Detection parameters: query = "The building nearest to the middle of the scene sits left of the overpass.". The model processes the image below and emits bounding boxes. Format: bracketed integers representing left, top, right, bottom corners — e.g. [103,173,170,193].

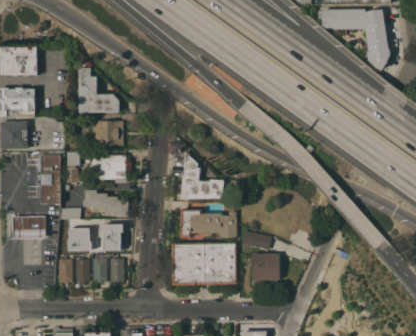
[182,152,224,200]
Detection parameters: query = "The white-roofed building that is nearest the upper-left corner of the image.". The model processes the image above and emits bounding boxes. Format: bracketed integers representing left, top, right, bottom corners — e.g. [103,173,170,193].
[0,47,38,76]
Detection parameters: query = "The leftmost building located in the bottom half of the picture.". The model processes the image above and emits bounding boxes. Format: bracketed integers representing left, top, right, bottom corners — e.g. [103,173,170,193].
[13,215,47,240]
